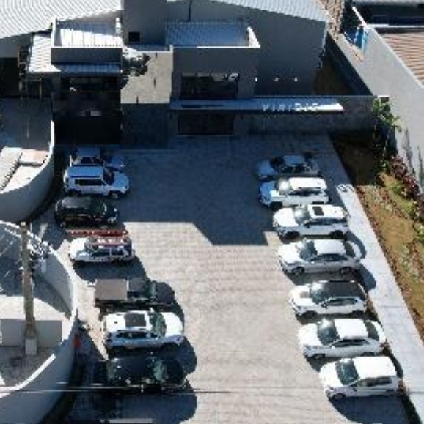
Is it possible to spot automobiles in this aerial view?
Yes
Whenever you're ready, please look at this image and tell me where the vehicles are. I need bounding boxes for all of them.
[102,309,186,354]
[295,319,390,360]
[254,152,322,178]
[317,357,407,400]
[67,229,138,265]
[99,351,187,397]
[71,144,125,171]
[258,176,329,209]
[66,165,127,198]
[274,203,350,239]
[92,271,180,312]
[54,197,121,232]
[280,242,362,276]
[287,276,374,318]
